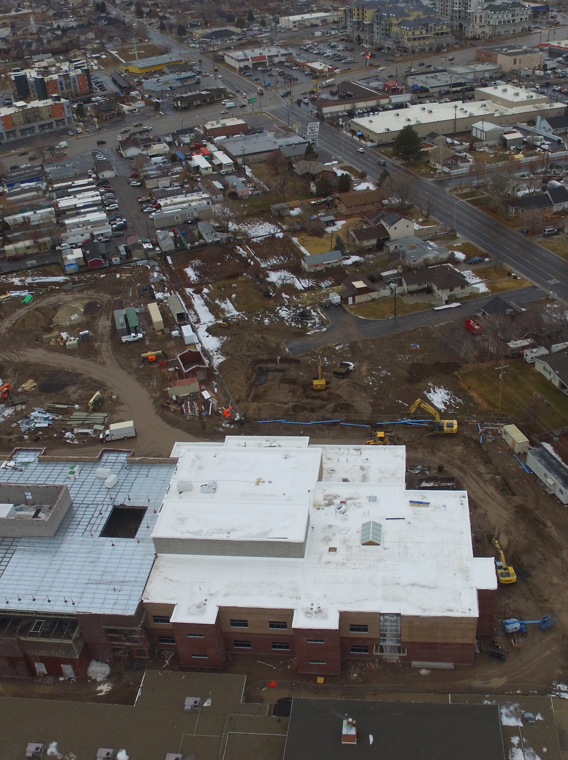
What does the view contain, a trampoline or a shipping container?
shipping container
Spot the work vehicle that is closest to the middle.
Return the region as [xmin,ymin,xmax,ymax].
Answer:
[313,354,327,391]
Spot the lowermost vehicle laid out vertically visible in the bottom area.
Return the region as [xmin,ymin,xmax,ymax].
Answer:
[495,543,521,595]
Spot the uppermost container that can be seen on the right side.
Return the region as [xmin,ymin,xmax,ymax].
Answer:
[502,424,529,453]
